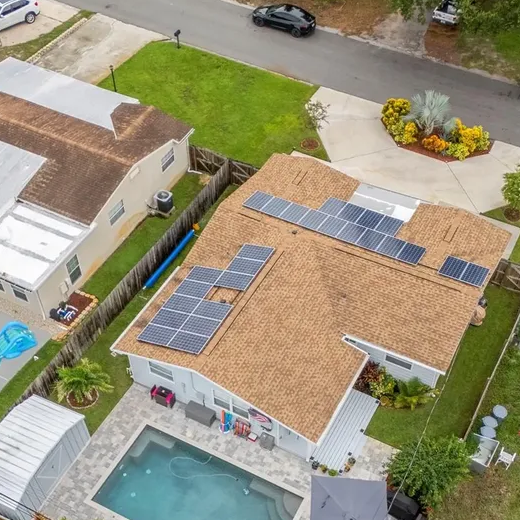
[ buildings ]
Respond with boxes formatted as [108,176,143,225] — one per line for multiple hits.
[0,51,197,321]
[108,152,514,459]
[0,390,91,520]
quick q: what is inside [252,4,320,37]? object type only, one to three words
car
